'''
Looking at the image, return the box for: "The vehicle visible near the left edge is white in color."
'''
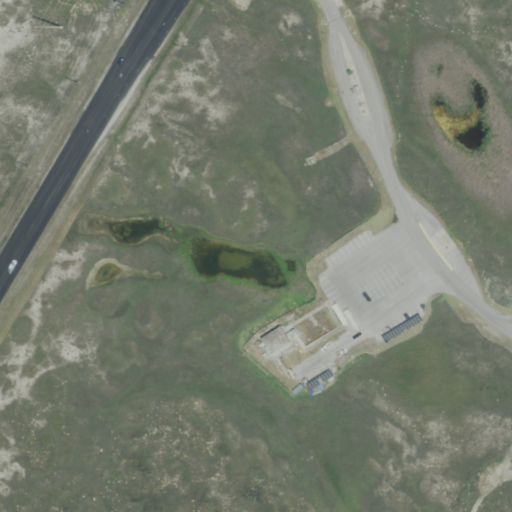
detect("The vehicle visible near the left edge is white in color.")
[5,258,18,274]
